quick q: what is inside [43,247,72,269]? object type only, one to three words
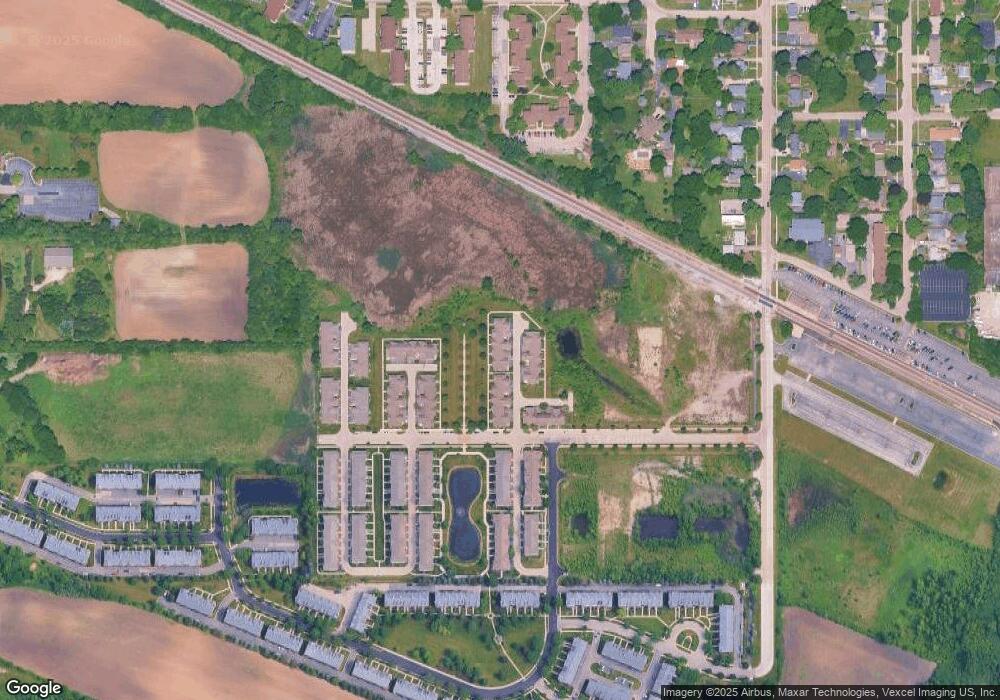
barn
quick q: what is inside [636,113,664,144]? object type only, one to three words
house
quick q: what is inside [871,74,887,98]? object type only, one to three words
house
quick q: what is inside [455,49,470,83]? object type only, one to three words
building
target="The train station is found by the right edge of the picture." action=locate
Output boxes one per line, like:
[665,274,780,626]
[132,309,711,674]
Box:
[791,306,1000,418]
